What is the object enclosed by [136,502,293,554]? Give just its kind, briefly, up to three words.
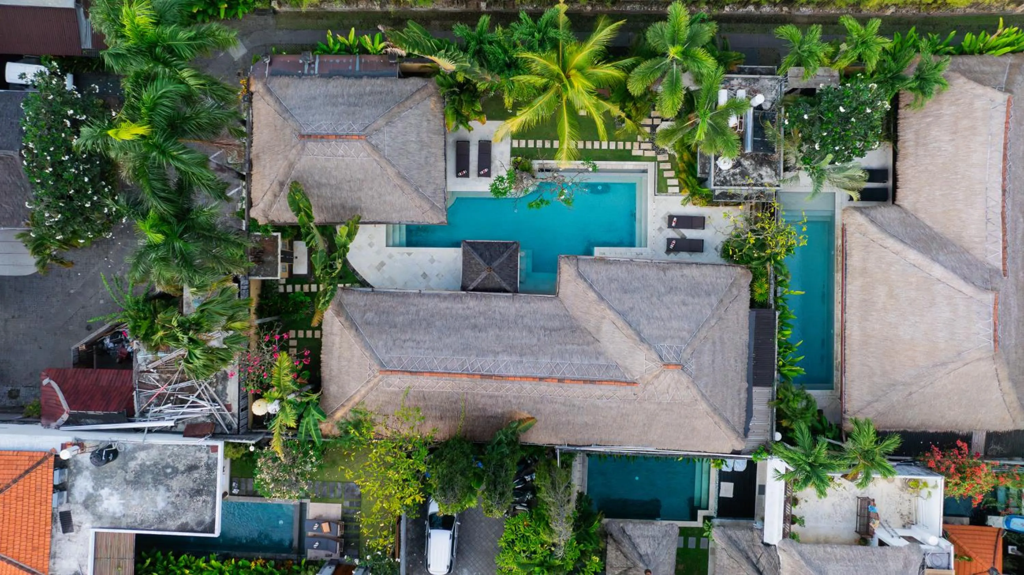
swimming pool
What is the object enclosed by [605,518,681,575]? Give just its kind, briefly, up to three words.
shed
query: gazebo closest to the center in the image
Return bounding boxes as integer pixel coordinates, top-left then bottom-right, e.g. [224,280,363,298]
[458,237,523,293]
